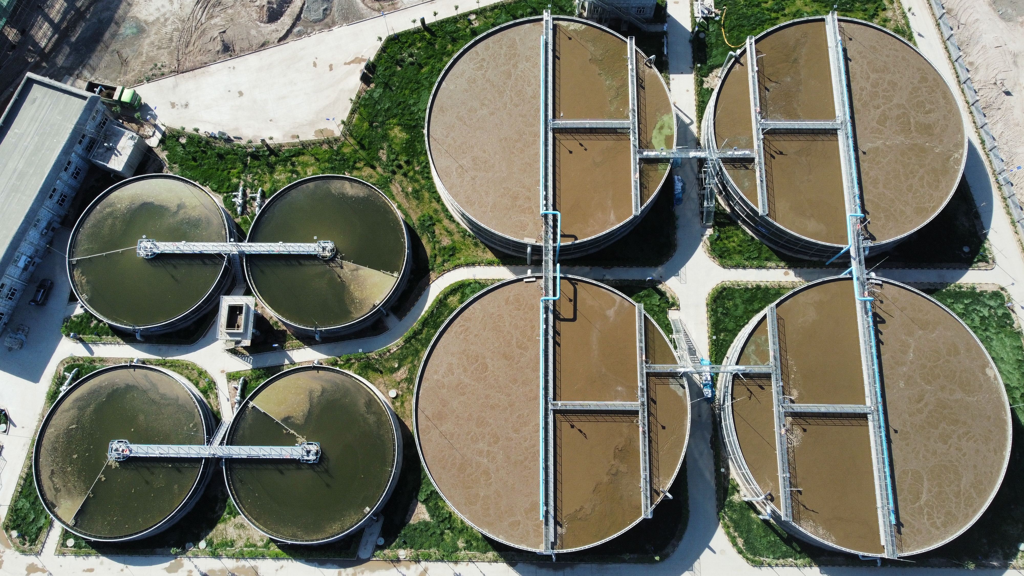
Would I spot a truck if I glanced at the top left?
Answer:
Yes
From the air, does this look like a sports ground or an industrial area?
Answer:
industrial area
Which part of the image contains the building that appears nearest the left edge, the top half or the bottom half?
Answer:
top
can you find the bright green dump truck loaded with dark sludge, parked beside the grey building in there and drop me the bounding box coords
[82,76,146,109]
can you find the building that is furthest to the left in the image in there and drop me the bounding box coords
[0,63,117,333]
